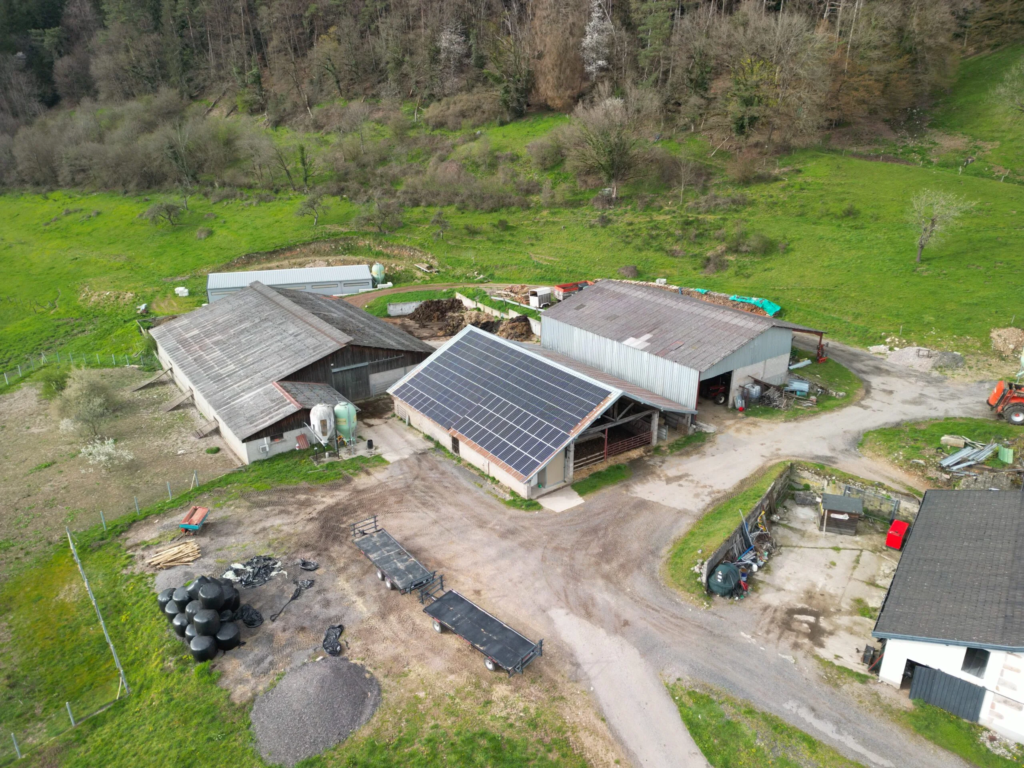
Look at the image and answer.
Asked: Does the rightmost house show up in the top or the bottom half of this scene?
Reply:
bottom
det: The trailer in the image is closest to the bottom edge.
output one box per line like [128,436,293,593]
[410,573,547,679]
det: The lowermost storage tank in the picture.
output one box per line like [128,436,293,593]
[712,561,744,591]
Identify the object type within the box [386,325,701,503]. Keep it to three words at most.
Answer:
barn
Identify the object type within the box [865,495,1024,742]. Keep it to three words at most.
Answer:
house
